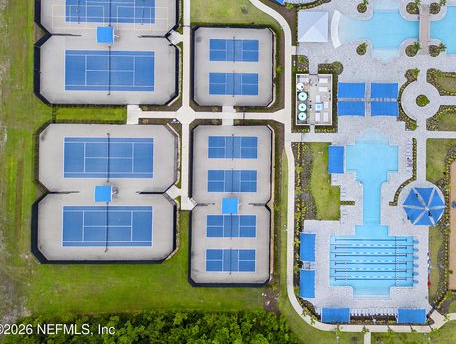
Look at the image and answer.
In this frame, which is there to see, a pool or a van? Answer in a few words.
pool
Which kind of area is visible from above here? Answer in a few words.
sports ground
